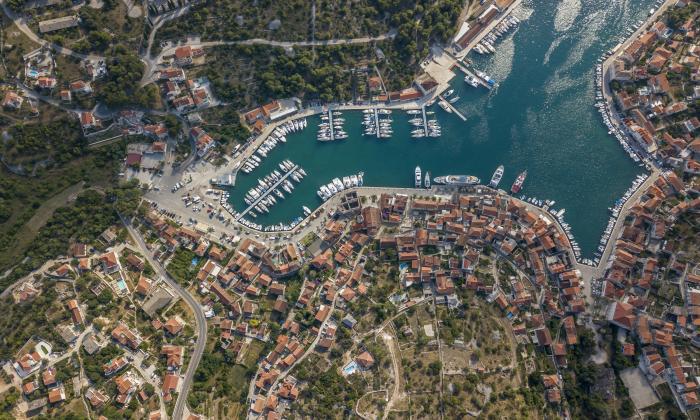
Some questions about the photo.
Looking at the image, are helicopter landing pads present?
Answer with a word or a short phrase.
No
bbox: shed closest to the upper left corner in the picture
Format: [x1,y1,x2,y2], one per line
[39,15,81,34]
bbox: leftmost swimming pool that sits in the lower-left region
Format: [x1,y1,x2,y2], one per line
[34,341,53,359]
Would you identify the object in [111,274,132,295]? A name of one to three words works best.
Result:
swimming pool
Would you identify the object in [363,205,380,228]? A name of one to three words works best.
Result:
house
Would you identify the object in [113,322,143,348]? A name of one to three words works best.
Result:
house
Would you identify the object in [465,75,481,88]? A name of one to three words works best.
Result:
boat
